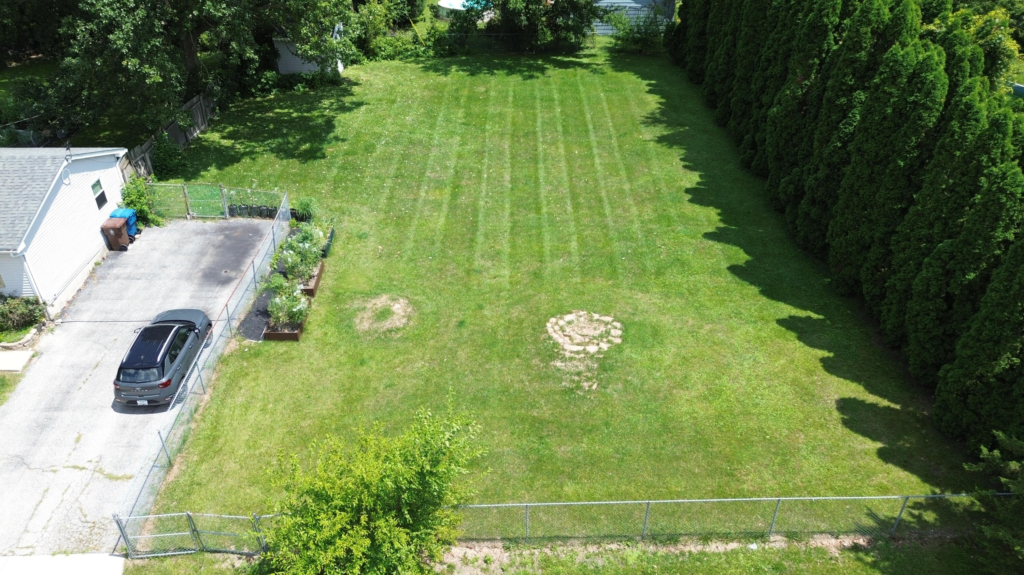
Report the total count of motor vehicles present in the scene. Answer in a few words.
1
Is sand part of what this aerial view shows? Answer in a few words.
No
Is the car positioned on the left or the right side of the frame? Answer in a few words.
left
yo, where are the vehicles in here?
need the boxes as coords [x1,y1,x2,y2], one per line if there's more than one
[114,309,212,406]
